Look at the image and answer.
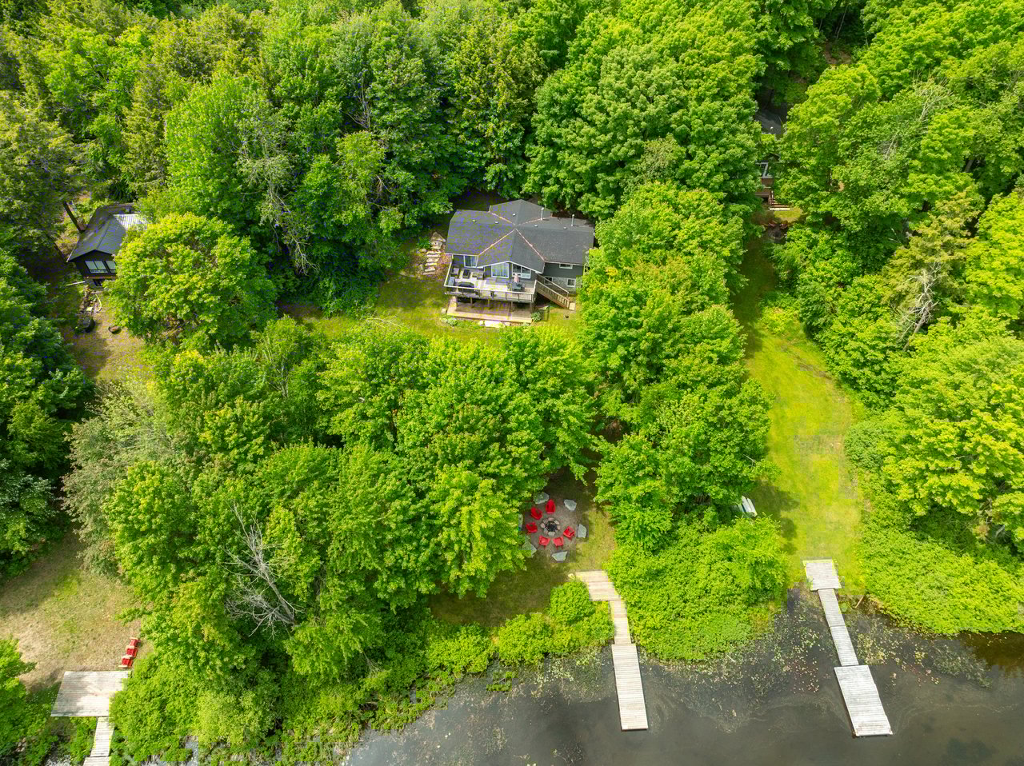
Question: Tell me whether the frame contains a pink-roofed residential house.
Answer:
No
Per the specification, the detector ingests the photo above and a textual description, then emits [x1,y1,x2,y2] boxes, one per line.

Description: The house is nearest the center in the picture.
[445,197,596,304]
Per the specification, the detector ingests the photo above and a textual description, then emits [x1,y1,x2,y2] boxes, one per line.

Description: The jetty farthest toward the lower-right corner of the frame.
[832,664,893,739]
